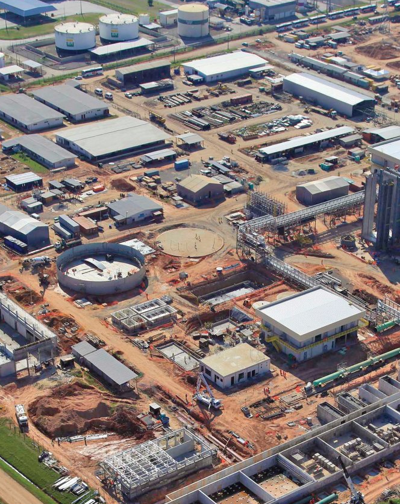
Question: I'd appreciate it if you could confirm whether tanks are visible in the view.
Yes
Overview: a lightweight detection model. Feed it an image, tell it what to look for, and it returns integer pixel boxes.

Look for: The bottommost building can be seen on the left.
[94,427,215,501]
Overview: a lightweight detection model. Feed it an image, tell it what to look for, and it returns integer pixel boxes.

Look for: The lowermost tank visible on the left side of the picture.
[55,243,146,295]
